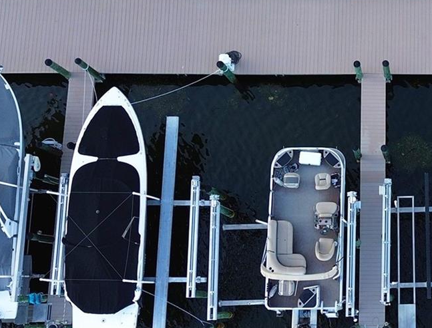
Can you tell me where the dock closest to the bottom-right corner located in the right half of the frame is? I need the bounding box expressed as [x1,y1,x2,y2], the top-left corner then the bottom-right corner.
[358,75,386,328]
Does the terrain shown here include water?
Yes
